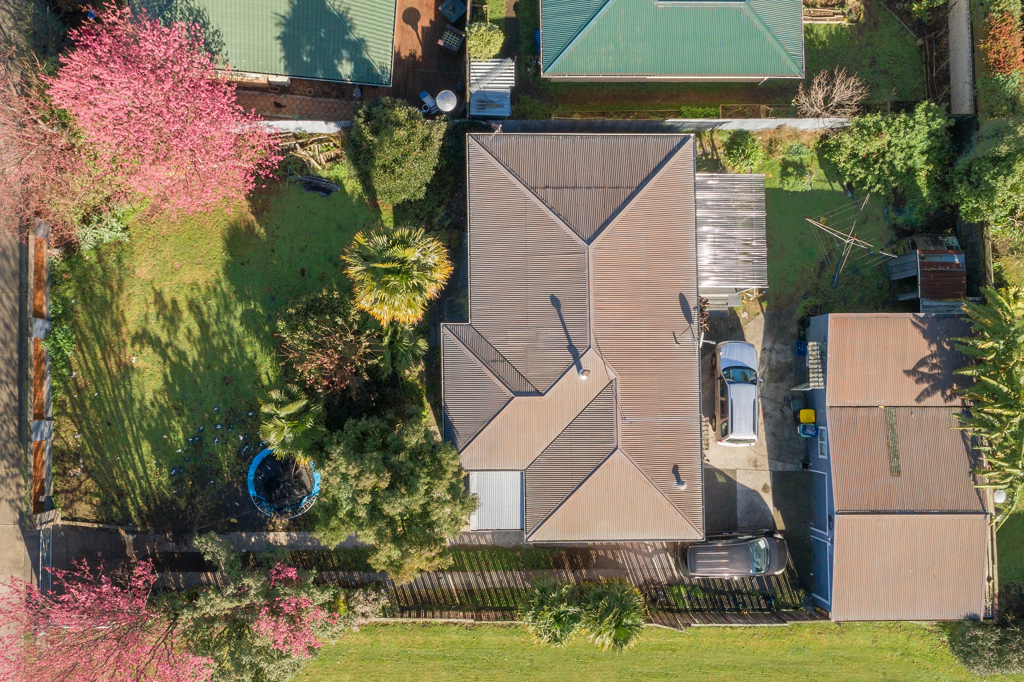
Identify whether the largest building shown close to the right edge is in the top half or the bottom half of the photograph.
bottom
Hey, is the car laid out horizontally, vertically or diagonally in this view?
vertically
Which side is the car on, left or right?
right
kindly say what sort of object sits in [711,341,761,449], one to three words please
car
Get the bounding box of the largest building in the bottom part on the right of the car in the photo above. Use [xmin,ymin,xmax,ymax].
[792,314,987,622]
